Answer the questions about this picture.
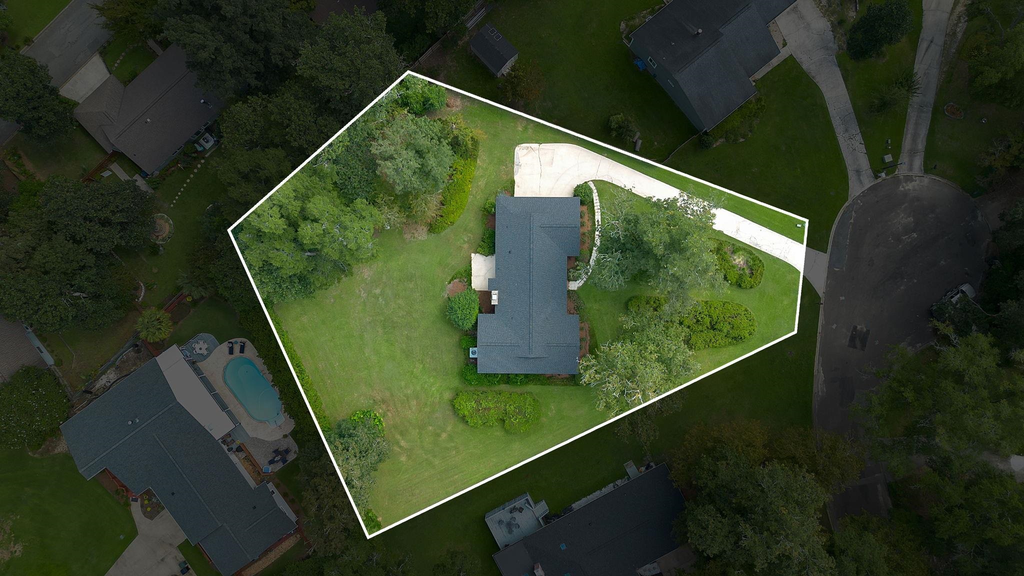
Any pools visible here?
Yes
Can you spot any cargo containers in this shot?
No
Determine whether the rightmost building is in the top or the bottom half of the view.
top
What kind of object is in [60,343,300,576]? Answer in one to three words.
building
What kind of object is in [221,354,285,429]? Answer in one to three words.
swimming pool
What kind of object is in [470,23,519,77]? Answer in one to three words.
shed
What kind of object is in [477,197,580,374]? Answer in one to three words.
house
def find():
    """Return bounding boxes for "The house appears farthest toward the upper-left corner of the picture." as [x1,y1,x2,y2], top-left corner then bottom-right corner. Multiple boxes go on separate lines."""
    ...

[74,45,223,174]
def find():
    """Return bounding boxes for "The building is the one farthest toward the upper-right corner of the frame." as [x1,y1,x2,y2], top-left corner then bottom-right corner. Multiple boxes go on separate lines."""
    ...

[625,0,795,137]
